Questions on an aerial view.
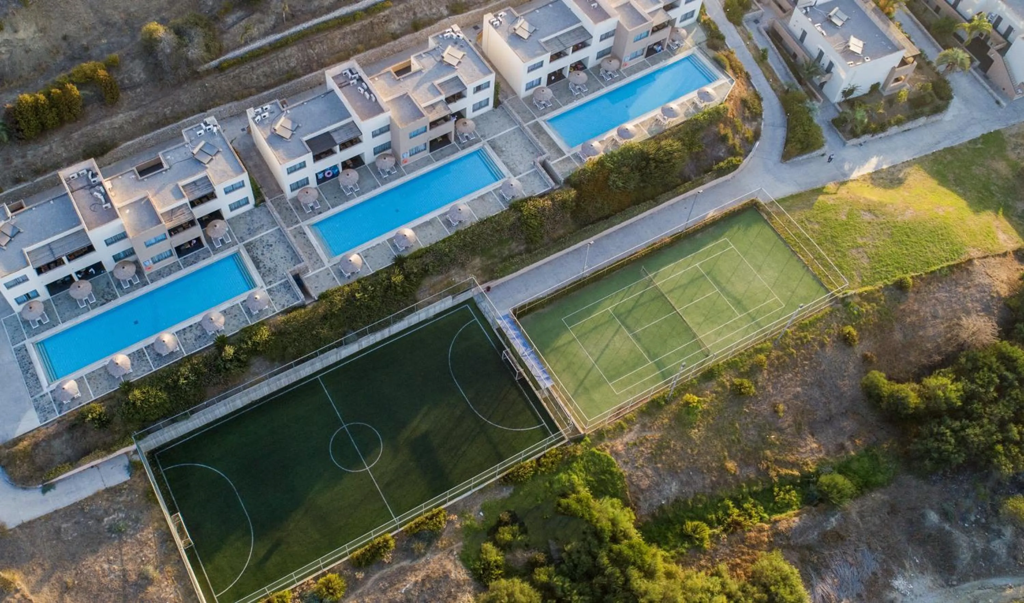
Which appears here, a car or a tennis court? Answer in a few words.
tennis court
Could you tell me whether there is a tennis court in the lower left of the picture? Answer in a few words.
No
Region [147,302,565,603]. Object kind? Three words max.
soccer field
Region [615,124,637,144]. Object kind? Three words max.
umbrella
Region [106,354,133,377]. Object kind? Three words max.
umbrella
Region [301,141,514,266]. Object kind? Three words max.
swimming pool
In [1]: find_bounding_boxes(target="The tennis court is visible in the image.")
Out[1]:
[520,208,828,420]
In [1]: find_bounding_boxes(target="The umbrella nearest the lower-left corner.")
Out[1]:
[53,379,82,403]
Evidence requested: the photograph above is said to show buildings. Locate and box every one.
[480,0,701,97]
[243,23,494,199]
[766,0,924,98]
[942,0,1024,100]
[0,116,255,311]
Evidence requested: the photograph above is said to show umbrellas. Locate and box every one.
[152,332,179,355]
[392,229,416,251]
[659,103,681,124]
[615,124,637,144]
[338,254,363,276]
[199,311,225,333]
[455,119,476,139]
[106,354,133,377]
[20,301,46,323]
[338,170,361,191]
[567,71,588,92]
[112,261,137,283]
[297,188,321,209]
[68,280,94,302]
[668,27,687,47]
[53,379,82,403]
[579,141,601,162]
[599,57,620,77]
[532,87,553,108]
[694,87,716,107]
[206,221,230,242]
[374,154,397,175]
[244,290,269,312]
